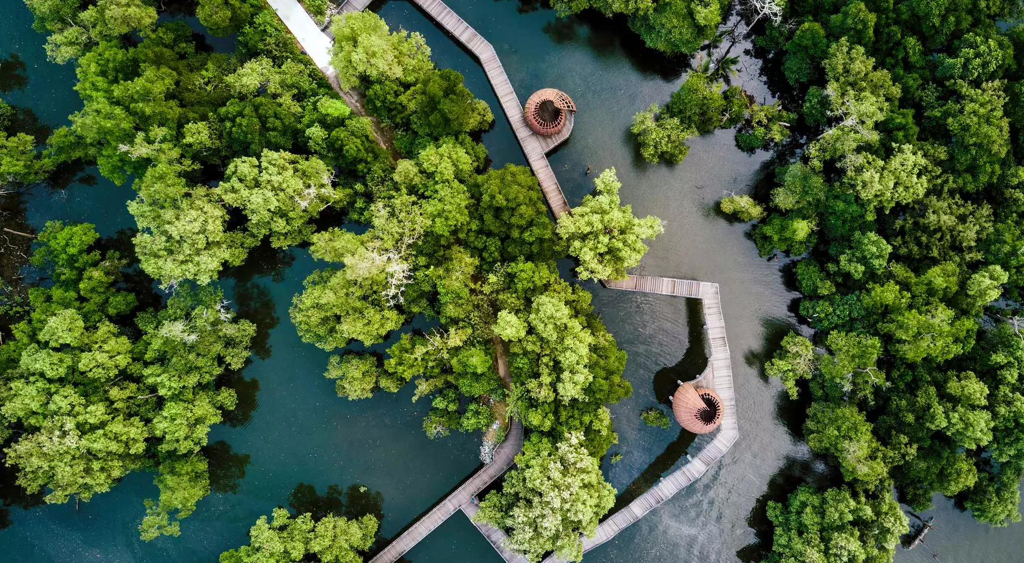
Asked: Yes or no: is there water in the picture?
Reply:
Yes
